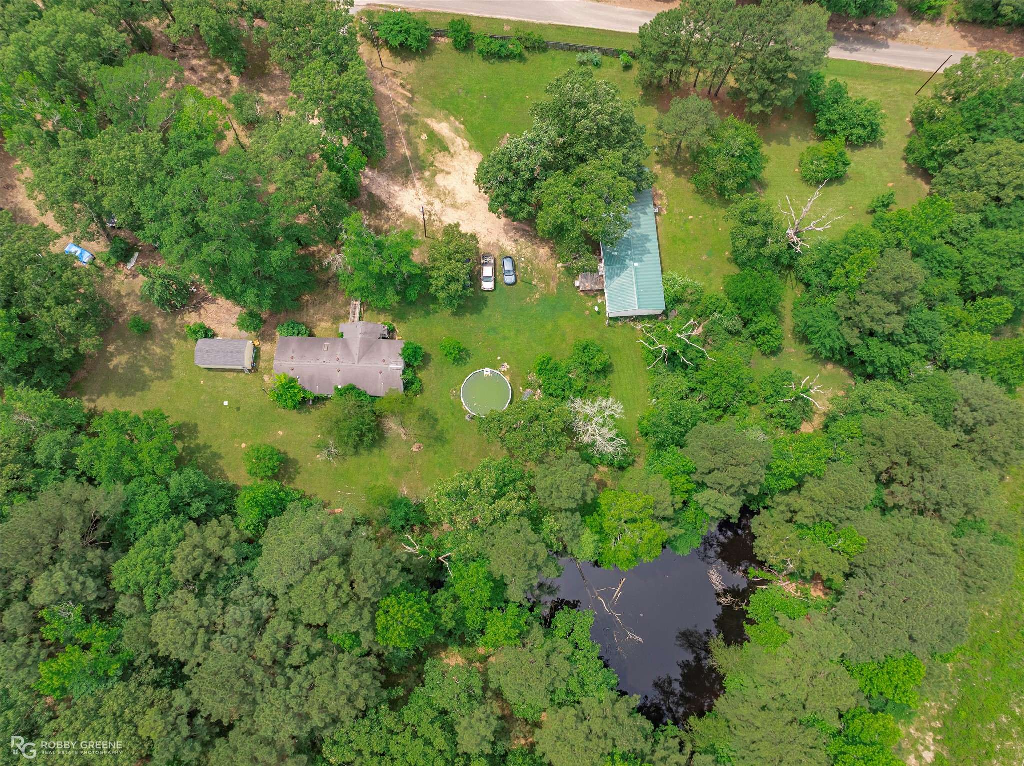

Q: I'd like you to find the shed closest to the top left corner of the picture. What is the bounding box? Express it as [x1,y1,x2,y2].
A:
[193,340,254,369]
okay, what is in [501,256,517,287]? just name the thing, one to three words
car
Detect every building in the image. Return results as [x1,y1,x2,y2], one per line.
[600,173,666,320]
[273,320,405,397]
[193,340,254,369]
